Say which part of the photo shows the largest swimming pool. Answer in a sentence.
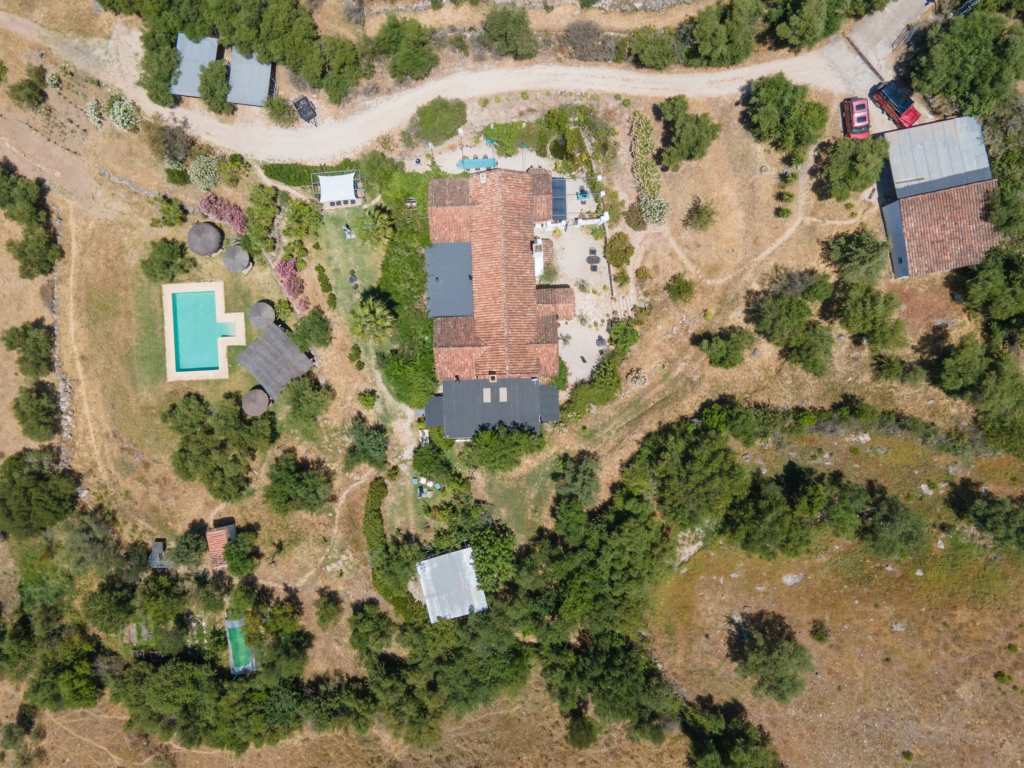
You can find the largest swimming pool in the left area of the picture.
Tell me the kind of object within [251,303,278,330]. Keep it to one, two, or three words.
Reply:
umbrella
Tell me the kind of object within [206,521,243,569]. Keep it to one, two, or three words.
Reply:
shed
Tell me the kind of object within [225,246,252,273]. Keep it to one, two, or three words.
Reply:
umbrella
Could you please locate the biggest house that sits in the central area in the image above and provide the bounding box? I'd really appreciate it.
[425,168,576,440]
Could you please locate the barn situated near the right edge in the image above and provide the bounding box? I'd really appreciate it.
[871,115,1006,280]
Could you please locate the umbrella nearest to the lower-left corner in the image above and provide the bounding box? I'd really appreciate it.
[245,389,273,416]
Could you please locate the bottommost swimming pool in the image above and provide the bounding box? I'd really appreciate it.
[162,281,246,382]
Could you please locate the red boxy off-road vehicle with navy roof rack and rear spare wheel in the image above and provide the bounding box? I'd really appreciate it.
[877,81,917,127]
